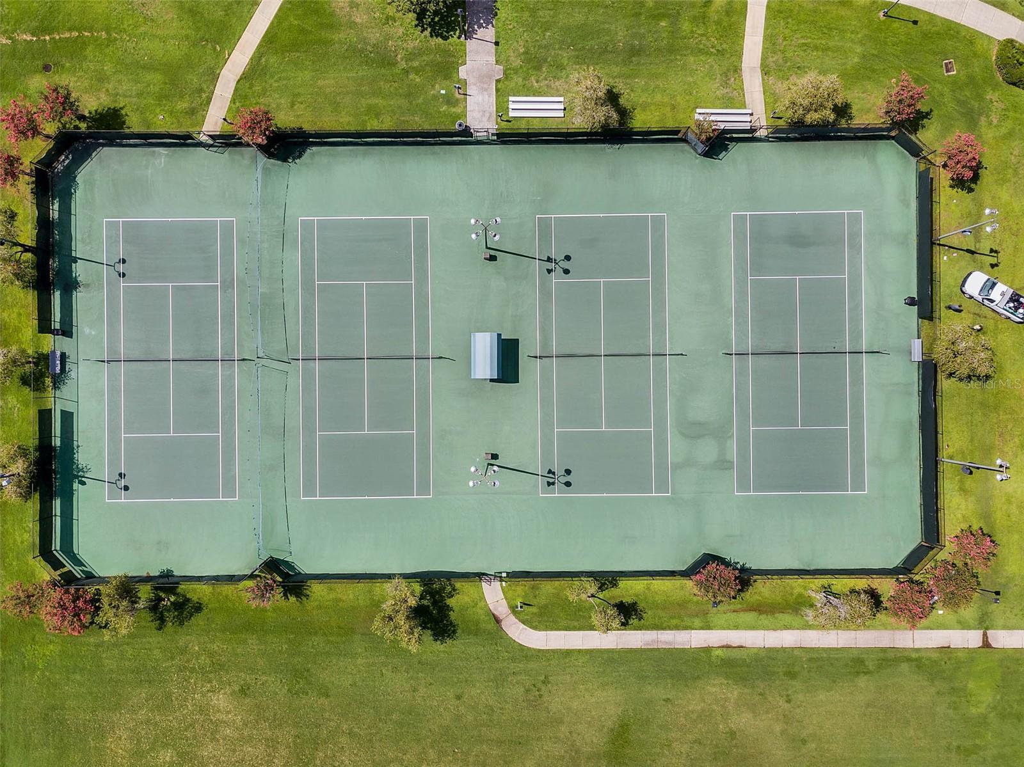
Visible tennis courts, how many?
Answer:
4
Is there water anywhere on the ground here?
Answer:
No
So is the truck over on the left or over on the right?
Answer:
right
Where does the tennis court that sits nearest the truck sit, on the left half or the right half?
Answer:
right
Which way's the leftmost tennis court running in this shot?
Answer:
vertically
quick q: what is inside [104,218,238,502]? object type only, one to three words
tennis court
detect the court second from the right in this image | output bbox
[536,214,671,496]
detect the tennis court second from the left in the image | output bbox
[299,216,432,499]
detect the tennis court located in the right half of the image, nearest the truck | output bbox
[732,210,867,495]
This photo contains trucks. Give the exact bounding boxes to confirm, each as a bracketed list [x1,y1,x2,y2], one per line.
[958,268,1024,319]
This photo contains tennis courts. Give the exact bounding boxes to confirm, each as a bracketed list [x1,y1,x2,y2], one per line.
[299,216,432,499]
[732,210,867,495]
[536,214,671,496]
[104,218,238,502]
